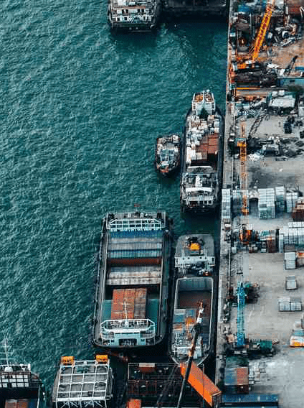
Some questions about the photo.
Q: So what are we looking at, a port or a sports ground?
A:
port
